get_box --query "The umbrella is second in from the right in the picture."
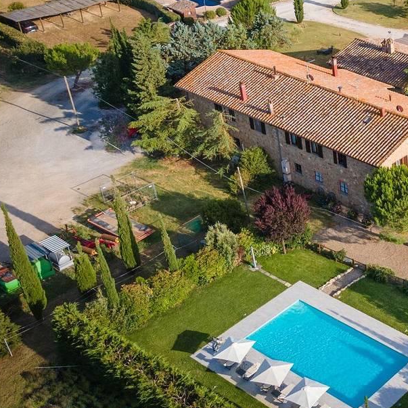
[249,357,295,390]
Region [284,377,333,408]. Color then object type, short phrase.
white umbrella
